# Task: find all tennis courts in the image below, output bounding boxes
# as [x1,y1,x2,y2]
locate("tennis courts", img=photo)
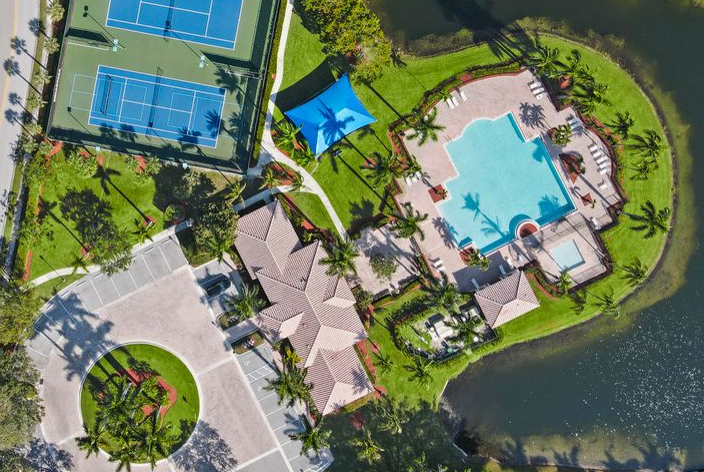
[69,0,278,75]
[53,40,264,172]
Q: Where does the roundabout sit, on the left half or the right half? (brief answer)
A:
left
